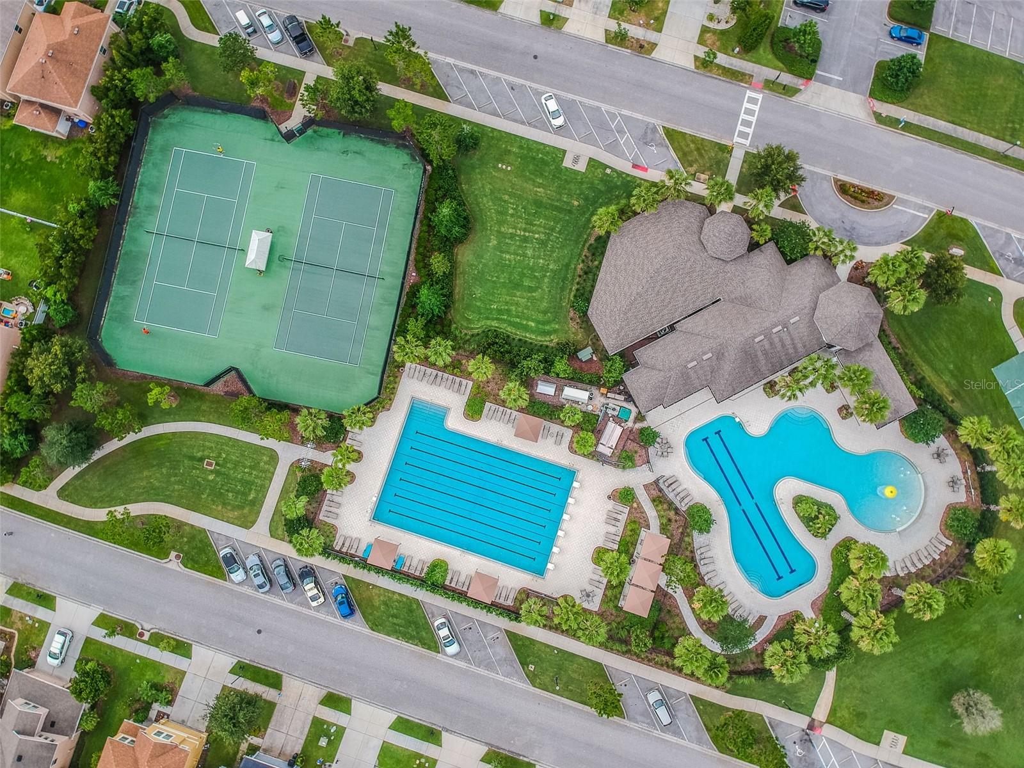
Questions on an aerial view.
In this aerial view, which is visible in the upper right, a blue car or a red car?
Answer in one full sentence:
The one visible in the upper right is a blue car.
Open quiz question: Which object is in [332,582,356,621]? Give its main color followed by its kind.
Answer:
blue car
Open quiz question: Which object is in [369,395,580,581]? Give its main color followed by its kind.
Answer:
blue swimming pool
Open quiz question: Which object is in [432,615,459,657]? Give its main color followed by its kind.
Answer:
white car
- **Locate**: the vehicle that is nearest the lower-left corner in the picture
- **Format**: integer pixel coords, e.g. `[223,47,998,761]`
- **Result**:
[46,626,74,667]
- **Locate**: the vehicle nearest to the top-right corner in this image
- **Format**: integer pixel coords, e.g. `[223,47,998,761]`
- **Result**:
[887,24,928,48]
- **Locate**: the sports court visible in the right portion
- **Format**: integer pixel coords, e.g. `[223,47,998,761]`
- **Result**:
[992,354,1024,429]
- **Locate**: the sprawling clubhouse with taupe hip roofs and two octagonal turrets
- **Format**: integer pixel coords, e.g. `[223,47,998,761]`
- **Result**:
[588,201,918,431]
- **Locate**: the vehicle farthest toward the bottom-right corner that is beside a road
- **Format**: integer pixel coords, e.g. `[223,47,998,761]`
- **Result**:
[645,687,674,729]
